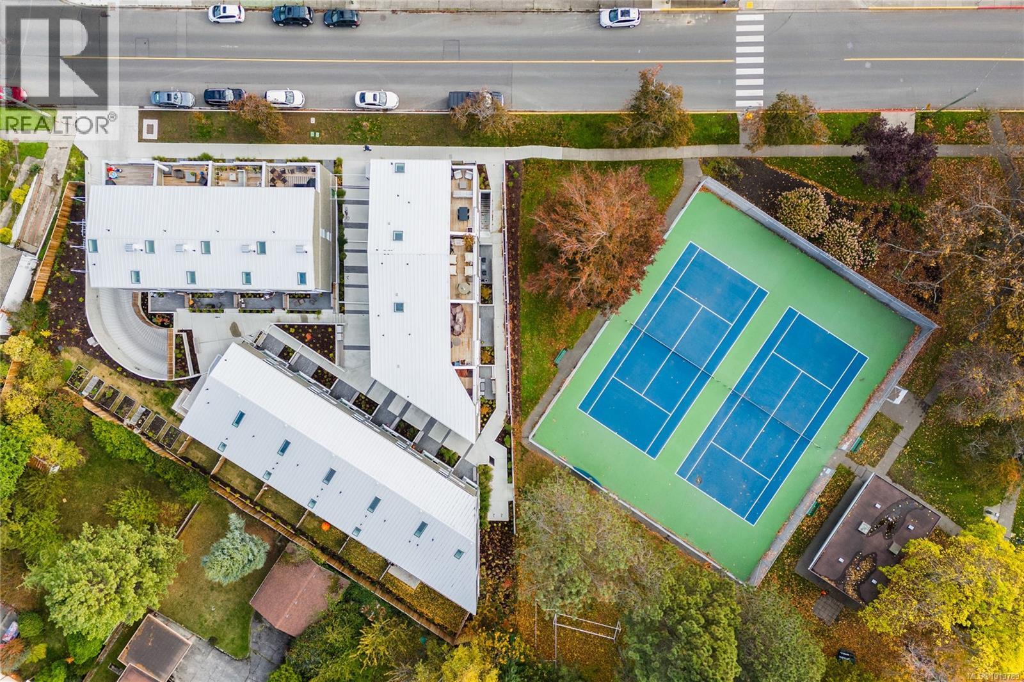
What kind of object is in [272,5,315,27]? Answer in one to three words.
car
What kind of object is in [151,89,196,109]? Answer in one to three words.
car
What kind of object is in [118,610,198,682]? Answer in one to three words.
building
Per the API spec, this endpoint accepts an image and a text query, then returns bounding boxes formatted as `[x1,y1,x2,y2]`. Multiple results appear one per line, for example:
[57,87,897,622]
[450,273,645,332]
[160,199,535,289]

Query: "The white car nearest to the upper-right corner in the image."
[599,7,641,29]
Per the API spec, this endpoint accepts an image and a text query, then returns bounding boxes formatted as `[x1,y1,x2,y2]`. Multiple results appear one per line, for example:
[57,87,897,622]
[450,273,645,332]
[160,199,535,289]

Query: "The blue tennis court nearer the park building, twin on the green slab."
[678,306,866,526]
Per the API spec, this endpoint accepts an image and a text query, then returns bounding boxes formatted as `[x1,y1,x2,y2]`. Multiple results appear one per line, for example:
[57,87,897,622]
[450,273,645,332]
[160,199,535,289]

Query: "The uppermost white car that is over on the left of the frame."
[209,4,247,25]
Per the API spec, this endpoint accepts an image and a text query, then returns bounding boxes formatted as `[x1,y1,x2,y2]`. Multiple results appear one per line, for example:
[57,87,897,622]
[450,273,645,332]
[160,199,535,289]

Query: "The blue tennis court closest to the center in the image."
[580,241,766,459]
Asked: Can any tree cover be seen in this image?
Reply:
Yes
